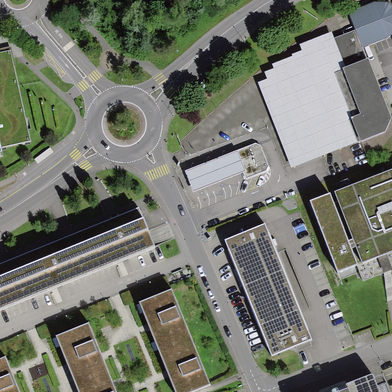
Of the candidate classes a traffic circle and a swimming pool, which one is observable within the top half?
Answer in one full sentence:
It is a traffic circle that can be seen within the top half.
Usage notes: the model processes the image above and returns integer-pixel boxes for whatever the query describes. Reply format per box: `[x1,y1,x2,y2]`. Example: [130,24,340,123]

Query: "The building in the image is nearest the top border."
[350,0,392,46]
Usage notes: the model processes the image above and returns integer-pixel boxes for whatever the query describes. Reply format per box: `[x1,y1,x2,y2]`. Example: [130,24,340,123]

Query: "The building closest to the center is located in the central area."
[186,142,270,192]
